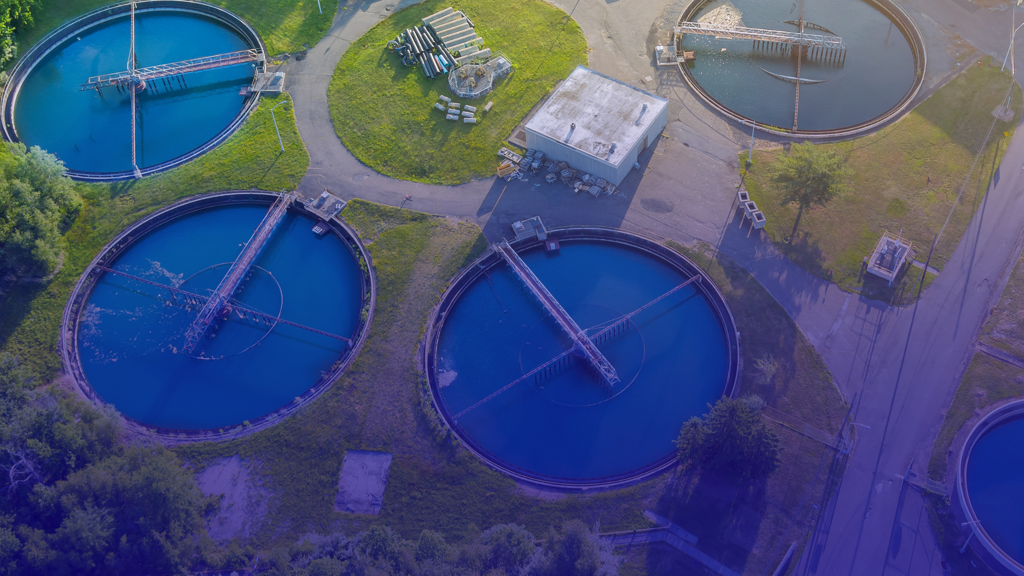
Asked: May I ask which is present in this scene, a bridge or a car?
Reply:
bridge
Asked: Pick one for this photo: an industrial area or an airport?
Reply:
industrial area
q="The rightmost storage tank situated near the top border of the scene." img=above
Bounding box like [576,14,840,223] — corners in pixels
[667,0,927,141]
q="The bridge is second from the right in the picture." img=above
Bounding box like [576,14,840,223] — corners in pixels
[490,231,621,390]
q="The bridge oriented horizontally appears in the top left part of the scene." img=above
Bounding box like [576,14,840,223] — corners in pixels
[82,45,274,95]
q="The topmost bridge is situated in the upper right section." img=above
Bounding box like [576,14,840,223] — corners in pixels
[667,18,852,56]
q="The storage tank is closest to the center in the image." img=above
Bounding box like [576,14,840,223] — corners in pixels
[425,223,741,490]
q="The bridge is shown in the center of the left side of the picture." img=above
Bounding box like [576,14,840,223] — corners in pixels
[185,182,302,351]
